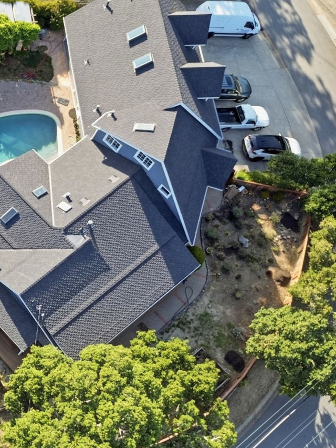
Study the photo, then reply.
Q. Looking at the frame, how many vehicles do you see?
4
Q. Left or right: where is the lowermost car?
right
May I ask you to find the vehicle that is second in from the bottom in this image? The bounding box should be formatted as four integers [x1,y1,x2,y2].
[215,107,276,136]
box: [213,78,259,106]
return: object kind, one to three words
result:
car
